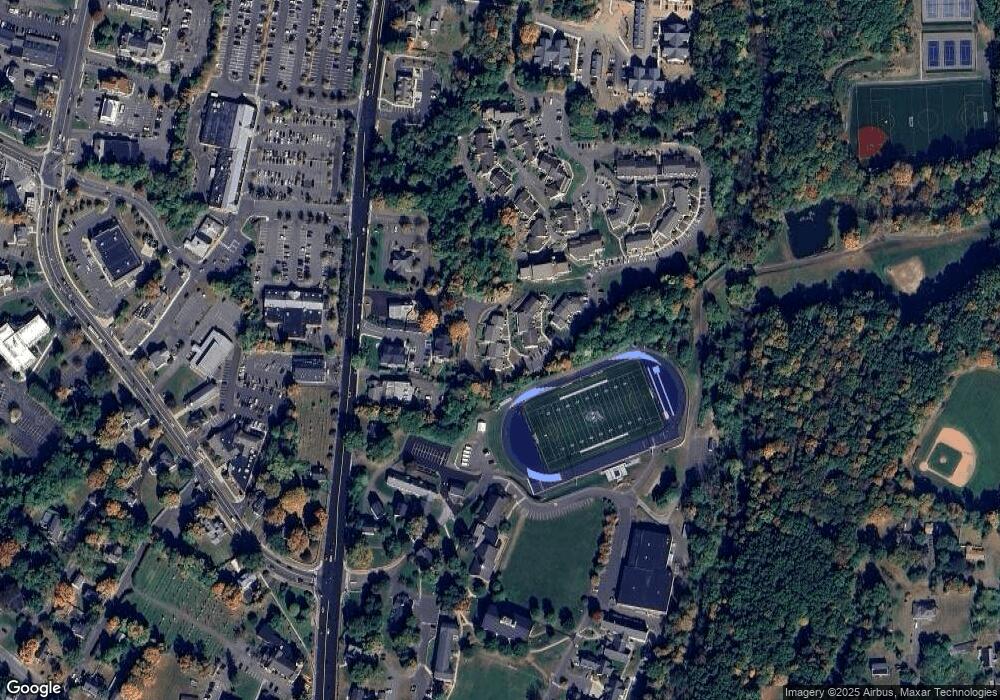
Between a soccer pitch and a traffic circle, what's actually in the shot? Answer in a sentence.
The one in the frame is a soccer pitch.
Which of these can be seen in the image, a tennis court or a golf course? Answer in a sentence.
The image shows a tennis court.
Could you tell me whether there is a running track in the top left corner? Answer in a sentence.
No, no running track can be made out in the top left corner.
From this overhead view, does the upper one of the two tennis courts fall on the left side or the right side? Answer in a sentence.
It is on the right.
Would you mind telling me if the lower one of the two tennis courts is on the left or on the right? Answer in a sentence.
The lower one of the two tennis courts is on the right side of the image.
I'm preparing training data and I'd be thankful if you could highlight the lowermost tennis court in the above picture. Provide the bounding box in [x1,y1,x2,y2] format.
[923,31,976,70]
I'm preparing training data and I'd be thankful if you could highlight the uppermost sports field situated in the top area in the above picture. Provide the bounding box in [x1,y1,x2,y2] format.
[853,81,993,161]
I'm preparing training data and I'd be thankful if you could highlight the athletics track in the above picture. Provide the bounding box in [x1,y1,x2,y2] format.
[502,347,687,493]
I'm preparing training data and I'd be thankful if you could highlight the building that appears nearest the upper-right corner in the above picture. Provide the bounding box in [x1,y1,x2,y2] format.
[662,24,690,62]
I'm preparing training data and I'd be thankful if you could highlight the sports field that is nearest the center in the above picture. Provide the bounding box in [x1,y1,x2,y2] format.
[523,360,663,471]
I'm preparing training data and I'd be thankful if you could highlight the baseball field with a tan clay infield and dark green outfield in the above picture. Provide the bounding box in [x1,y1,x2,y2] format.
[914,361,1000,497]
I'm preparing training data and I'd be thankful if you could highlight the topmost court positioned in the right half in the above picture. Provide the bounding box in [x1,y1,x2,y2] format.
[922,0,974,23]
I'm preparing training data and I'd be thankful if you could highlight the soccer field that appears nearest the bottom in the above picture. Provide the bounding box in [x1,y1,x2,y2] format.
[500,498,606,613]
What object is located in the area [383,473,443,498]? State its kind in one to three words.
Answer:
building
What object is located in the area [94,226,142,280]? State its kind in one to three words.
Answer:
building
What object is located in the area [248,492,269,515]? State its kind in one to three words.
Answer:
house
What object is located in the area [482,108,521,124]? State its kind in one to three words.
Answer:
house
